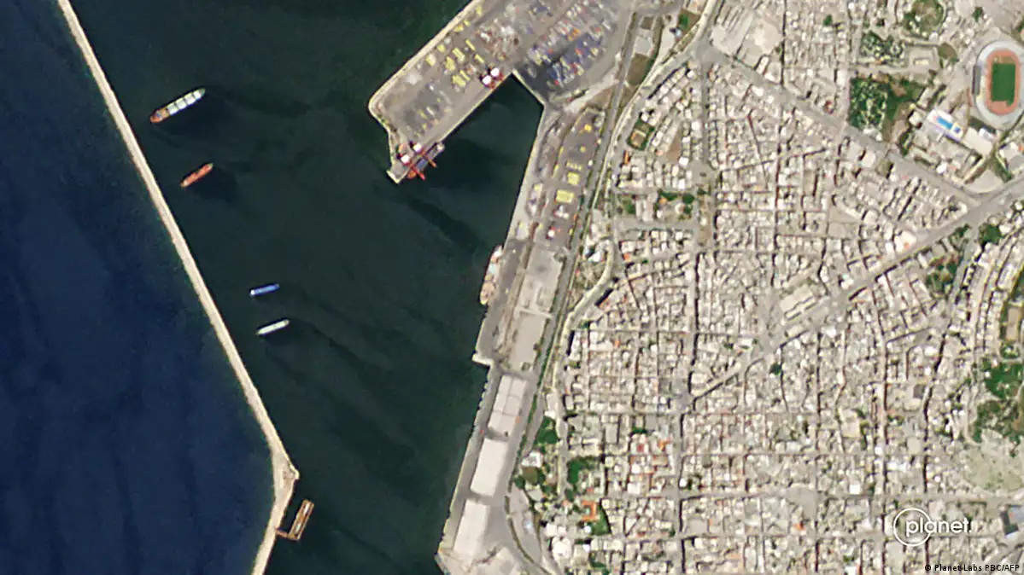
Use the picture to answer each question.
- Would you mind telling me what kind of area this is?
port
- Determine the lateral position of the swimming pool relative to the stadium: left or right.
on its left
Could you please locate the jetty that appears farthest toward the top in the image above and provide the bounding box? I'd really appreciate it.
[369,0,585,183]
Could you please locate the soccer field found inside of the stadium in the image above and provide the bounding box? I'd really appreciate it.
[992,64,1015,101]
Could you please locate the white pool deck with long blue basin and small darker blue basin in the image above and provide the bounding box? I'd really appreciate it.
[927,109,964,140]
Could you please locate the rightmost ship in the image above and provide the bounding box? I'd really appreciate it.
[479,245,504,306]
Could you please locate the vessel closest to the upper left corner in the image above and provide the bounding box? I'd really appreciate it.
[148,87,206,121]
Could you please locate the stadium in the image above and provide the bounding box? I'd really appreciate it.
[973,38,1024,129]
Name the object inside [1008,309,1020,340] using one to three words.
building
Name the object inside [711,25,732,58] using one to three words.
building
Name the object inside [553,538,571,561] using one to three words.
house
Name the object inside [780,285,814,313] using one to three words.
shed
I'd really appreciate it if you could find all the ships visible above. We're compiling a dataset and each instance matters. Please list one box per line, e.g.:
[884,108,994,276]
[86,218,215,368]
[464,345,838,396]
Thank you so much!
[479,245,504,306]
[257,320,290,335]
[148,87,206,121]
[249,284,279,295]
[179,163,213,188]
